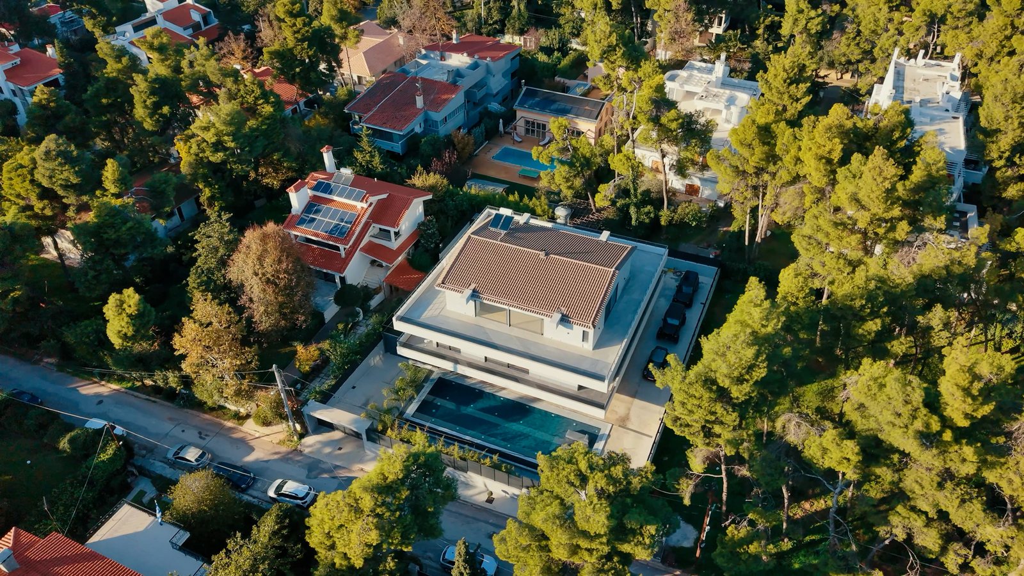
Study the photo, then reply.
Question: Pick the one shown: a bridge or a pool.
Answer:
pool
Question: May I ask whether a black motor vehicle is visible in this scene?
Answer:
Yes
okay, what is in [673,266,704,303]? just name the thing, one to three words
car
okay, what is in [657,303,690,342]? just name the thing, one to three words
car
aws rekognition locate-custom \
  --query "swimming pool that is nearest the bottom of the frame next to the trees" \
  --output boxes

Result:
[403,368,614,474]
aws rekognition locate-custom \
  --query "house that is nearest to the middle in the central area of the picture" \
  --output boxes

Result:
[391,200,668,418]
